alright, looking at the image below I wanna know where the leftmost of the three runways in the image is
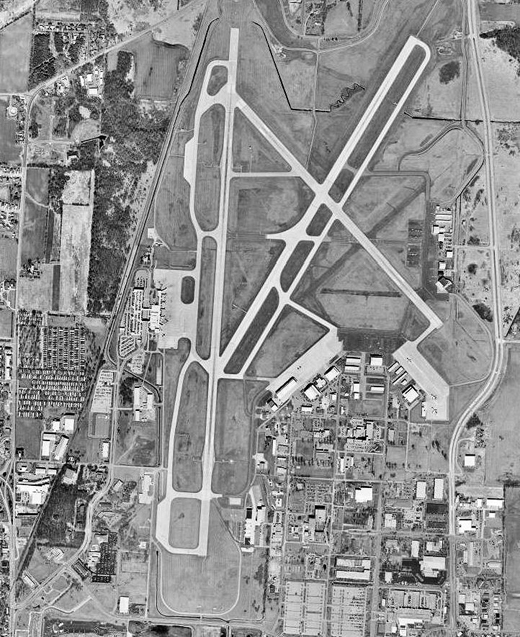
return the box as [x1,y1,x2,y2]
[199,28,239,556]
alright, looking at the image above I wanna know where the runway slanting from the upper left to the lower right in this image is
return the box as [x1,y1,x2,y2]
[236,90,443,329]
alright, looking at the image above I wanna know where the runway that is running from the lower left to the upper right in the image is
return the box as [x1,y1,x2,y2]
[218,36,418,375]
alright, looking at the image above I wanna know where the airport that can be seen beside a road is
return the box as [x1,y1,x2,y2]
[147,0,490,621]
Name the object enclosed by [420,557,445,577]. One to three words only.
building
